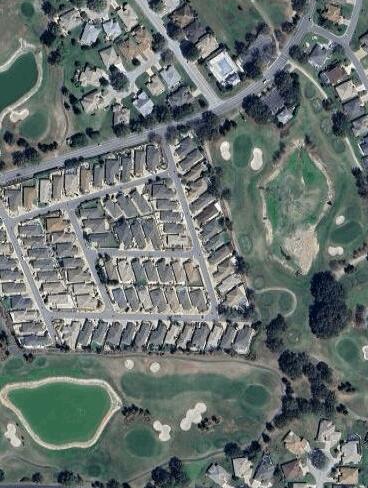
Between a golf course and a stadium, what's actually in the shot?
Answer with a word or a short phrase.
golf course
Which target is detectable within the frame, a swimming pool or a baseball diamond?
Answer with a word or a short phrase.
swimming pool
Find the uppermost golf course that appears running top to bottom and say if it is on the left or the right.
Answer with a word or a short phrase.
left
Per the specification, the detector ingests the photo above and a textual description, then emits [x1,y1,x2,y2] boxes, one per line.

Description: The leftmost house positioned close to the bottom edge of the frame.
[202,461,233,485]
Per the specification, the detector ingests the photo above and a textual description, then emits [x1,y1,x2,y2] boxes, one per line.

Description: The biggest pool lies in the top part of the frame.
[208,48,237,78]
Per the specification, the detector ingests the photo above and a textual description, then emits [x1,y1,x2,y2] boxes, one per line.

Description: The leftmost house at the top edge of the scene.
[57,8,82,33]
